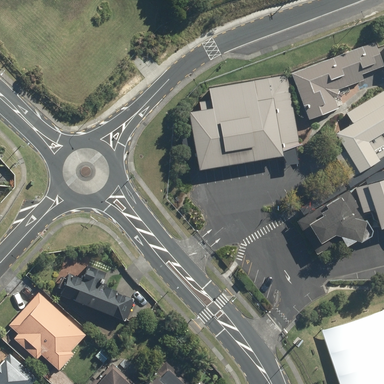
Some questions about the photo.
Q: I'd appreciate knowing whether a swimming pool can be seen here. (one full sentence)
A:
No, there's no swimming pool here.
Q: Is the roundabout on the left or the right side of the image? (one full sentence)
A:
The roundabout is on the left side of the image.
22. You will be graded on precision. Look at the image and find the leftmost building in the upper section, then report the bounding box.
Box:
[190,76,301,170]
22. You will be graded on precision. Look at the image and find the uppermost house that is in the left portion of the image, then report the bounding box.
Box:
[60,267,133,322]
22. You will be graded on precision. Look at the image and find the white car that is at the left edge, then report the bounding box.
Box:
[12,292,25,308]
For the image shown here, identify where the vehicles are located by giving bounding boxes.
[132,290,148,306]
[20,284,33,300]
[12,292,25,308]
[258,276,274,294]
